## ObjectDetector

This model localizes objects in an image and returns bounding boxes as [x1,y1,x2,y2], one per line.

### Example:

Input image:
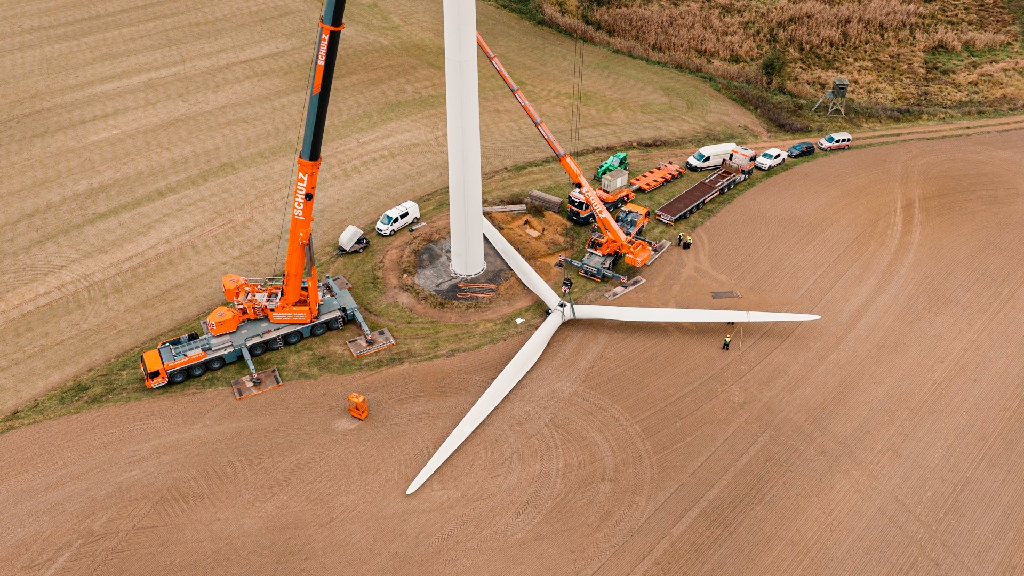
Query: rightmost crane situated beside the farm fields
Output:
[475,24,662,291]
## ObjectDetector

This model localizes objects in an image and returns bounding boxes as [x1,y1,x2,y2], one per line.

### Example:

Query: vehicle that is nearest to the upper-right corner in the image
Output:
[817,132,853,152]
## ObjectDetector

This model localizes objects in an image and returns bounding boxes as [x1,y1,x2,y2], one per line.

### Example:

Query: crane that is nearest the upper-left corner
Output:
[135,0,374,390]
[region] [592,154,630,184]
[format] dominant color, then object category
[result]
green work vehicle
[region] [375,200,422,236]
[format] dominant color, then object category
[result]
white van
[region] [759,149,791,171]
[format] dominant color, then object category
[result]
white truck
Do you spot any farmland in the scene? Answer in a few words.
Yes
